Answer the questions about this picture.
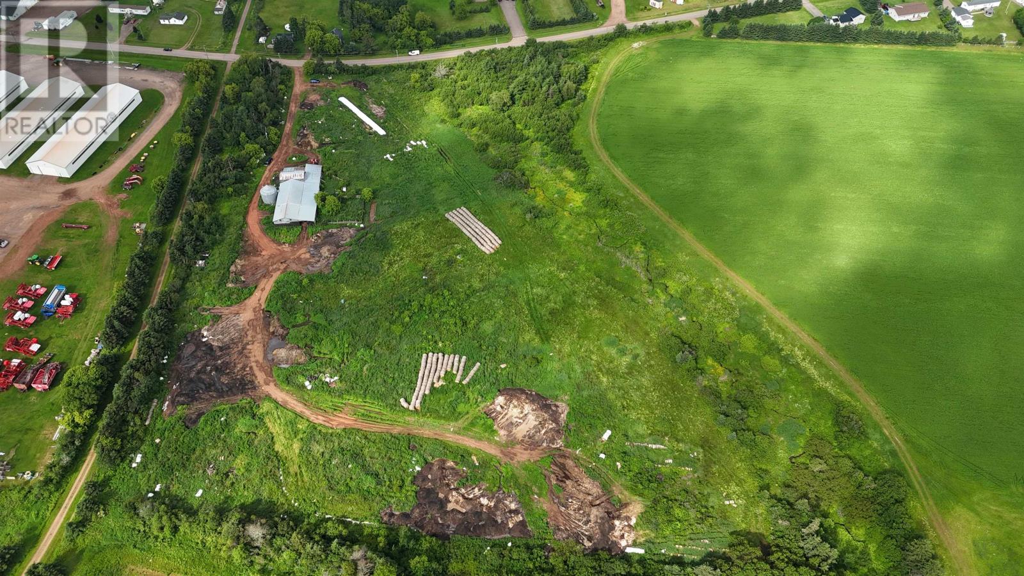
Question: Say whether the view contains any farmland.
Yes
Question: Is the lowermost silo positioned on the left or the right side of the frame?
left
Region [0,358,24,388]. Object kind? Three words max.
work vehicle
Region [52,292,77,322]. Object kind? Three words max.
work vehicle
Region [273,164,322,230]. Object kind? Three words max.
barn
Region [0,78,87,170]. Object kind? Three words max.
shed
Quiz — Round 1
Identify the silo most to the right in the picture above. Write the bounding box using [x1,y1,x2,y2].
[257,184,279,204]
